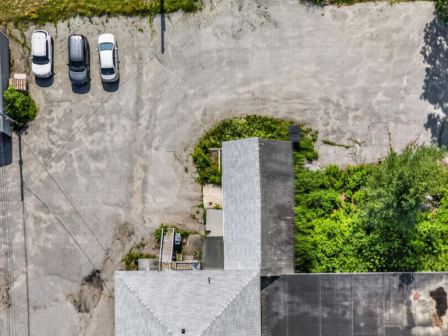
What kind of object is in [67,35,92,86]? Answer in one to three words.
car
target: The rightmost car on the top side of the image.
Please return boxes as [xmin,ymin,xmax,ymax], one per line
[95,34,120,83]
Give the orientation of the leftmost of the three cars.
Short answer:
up and down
